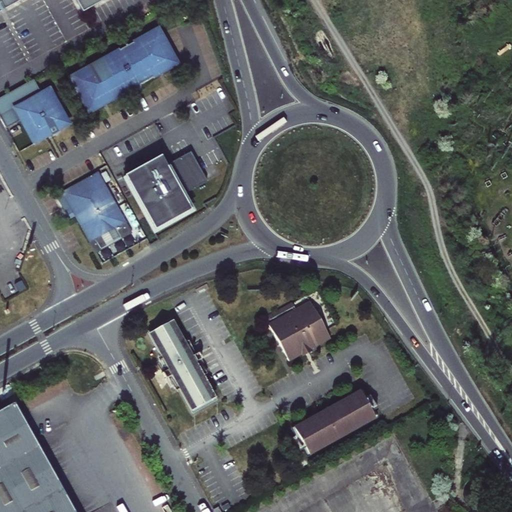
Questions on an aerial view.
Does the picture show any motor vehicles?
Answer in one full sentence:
Yes, there is a motor vehicle in the image.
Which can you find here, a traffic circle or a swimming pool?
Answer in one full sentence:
Looking from above, you can make out a traffic circle.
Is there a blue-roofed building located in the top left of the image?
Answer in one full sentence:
Yes, the scene does show a blue-roofed building in the top left of the image.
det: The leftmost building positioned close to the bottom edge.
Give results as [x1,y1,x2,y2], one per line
[0,402,77,512]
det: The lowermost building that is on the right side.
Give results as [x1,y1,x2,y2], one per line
[293,389,378,456]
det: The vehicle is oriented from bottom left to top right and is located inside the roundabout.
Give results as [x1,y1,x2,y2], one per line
[252,118,286,143]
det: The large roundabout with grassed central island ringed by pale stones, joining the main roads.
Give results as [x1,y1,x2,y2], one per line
[232,102,398,267]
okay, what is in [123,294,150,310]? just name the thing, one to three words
vehicle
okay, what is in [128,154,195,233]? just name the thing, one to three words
building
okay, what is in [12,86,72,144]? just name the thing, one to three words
building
